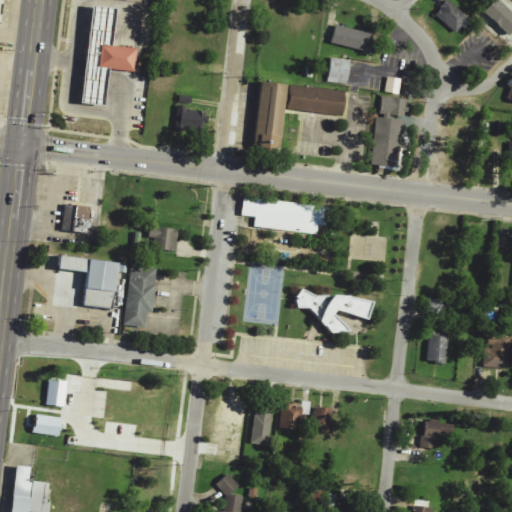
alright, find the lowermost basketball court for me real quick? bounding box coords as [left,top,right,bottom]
[242,266,285,324]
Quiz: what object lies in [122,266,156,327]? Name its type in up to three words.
building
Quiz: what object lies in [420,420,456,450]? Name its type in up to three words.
house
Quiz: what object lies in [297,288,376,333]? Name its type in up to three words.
building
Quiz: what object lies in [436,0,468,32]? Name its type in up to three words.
house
